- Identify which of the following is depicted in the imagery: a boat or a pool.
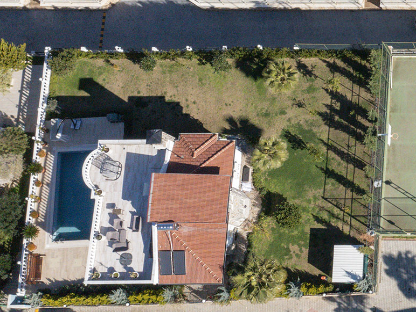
pool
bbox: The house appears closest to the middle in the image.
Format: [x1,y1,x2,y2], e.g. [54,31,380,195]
[78,129,253,287]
